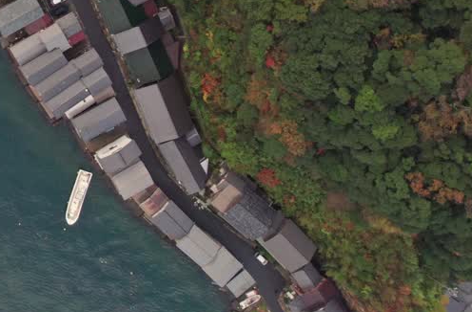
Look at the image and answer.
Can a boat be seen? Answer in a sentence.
Yes, I can see a boat in this picture.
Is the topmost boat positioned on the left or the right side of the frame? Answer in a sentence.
You can find the topmost boat on the left side of the picture.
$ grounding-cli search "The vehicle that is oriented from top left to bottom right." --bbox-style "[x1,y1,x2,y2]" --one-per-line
[254,252,268,268]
